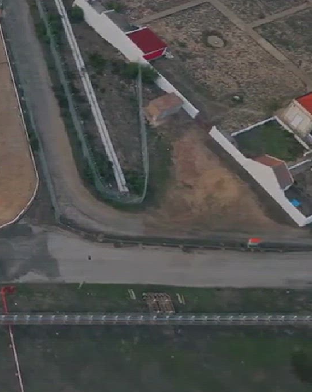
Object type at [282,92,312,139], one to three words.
house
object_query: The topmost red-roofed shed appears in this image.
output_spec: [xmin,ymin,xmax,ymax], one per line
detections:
[127,26,168,59]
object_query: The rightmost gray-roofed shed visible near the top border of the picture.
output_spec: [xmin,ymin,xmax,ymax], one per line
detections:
[106,11,141,33]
